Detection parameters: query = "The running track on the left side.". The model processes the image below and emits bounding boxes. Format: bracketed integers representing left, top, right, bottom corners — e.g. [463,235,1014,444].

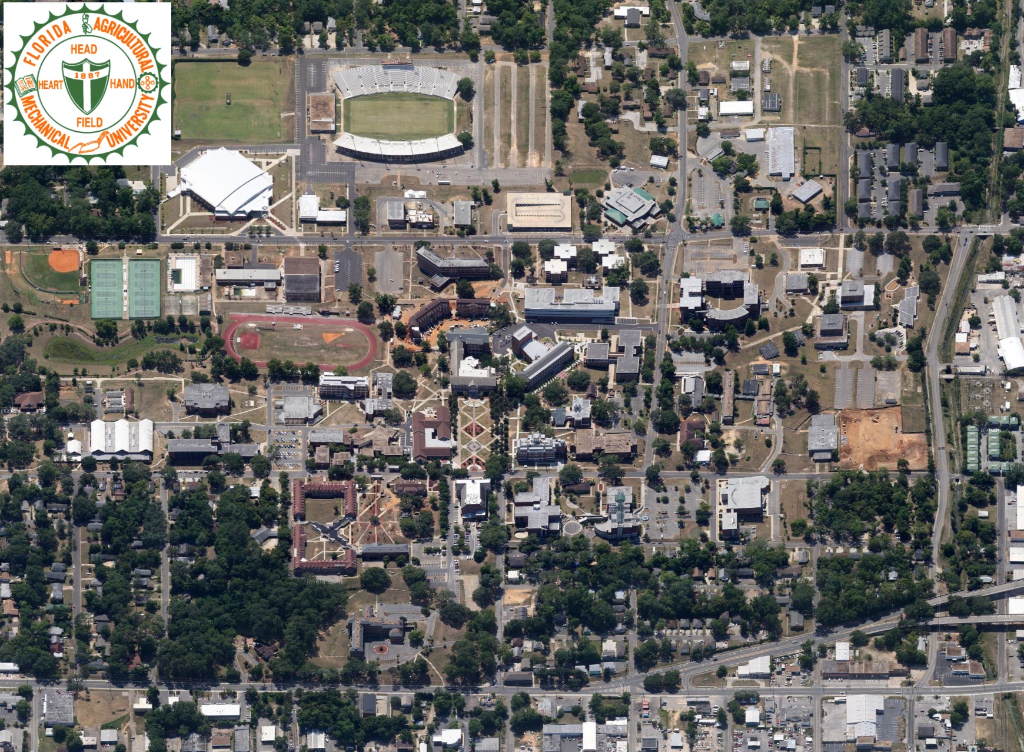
[223,314,376,371]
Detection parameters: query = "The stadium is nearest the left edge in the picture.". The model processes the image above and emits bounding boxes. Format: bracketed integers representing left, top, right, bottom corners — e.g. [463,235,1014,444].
[168,147,273,222]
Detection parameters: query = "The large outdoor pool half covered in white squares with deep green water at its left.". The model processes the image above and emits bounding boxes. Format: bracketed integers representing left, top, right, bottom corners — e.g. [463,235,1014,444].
[167,254,200,291]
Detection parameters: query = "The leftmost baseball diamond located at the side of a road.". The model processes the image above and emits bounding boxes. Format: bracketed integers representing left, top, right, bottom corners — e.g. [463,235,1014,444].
[19,249,82,294]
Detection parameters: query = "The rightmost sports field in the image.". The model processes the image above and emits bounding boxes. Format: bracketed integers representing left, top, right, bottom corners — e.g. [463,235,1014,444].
[343,92,454,141]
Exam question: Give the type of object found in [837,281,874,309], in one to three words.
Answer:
building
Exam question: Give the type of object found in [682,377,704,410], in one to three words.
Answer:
building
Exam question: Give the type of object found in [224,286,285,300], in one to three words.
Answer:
swimming pool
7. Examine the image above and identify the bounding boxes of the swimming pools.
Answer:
[224,286,285,300]
[167,254,200,291]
